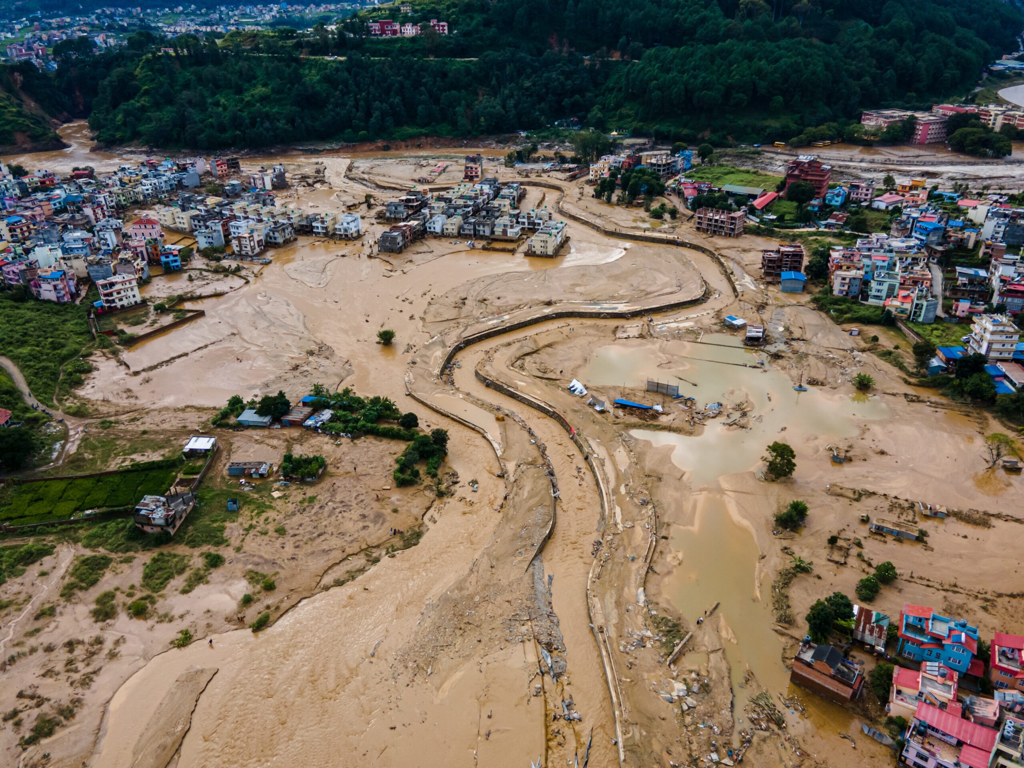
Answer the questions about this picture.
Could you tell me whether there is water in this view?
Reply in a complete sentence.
Yes, the picture does contain water.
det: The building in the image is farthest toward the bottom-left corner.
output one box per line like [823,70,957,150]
[134,478,208,535]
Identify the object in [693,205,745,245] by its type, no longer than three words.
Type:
building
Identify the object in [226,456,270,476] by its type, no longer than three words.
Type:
shed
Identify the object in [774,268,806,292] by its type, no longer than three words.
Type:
shed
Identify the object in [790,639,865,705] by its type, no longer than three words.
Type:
house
